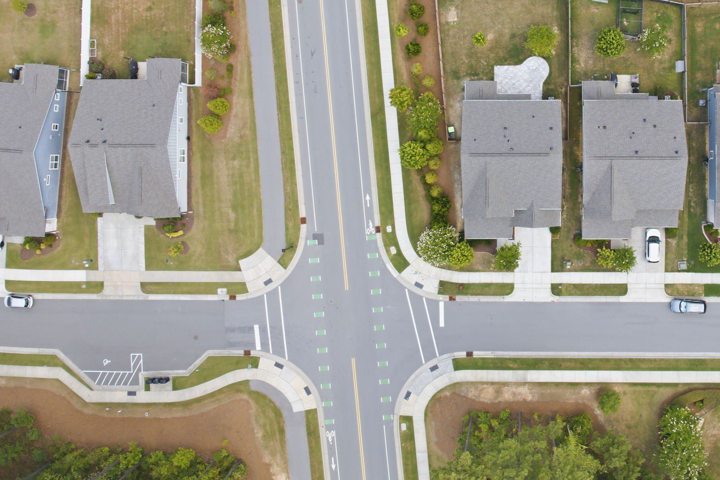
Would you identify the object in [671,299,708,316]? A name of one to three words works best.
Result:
car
